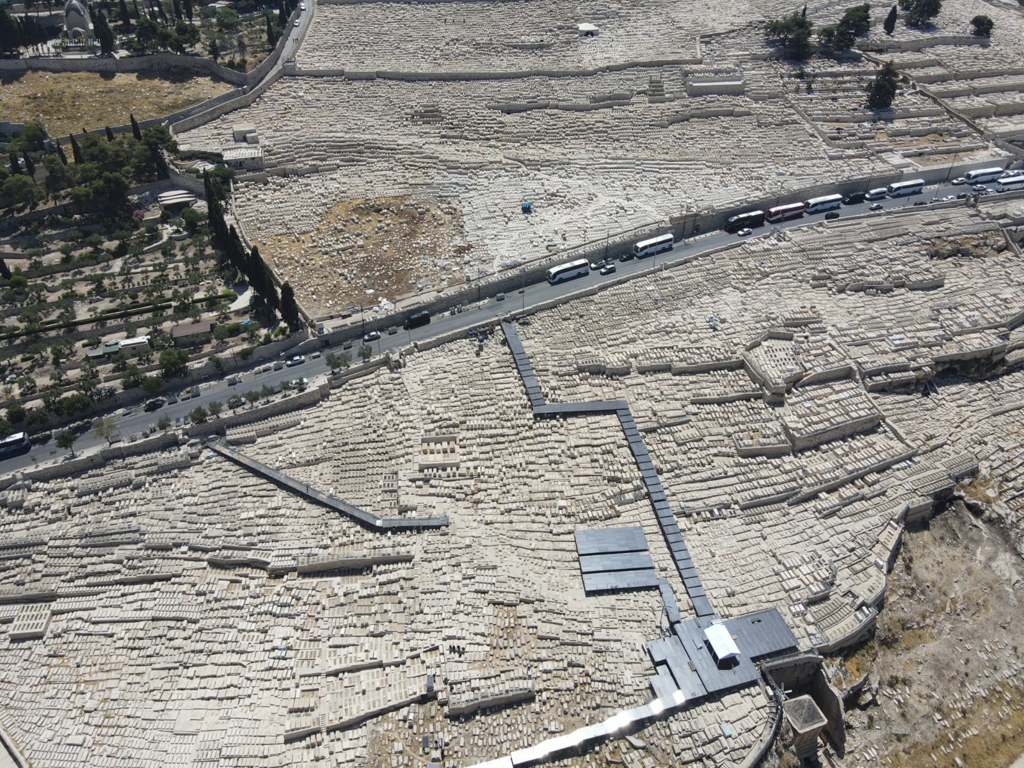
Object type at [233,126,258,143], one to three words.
house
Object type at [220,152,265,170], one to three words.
house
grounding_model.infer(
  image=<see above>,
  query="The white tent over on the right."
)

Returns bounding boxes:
[702,625,741,667]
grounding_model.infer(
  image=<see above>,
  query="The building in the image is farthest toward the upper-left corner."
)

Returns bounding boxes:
[60,3,91,54]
